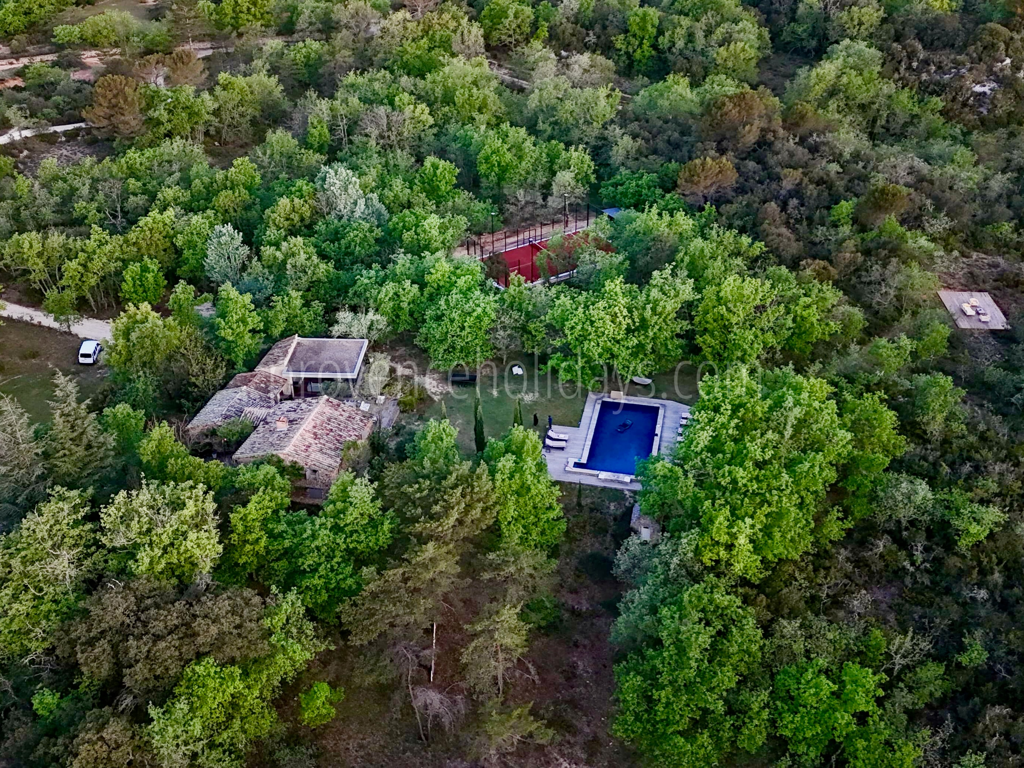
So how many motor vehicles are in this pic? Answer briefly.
1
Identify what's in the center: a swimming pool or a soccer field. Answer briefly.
swimming pool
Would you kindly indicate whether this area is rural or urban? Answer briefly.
rural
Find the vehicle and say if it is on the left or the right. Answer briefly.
left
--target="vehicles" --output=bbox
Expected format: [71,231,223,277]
[77,340,103,364]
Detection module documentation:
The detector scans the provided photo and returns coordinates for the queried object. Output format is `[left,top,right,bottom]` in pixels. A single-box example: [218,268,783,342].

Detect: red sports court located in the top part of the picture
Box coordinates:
[472,201,635,287]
